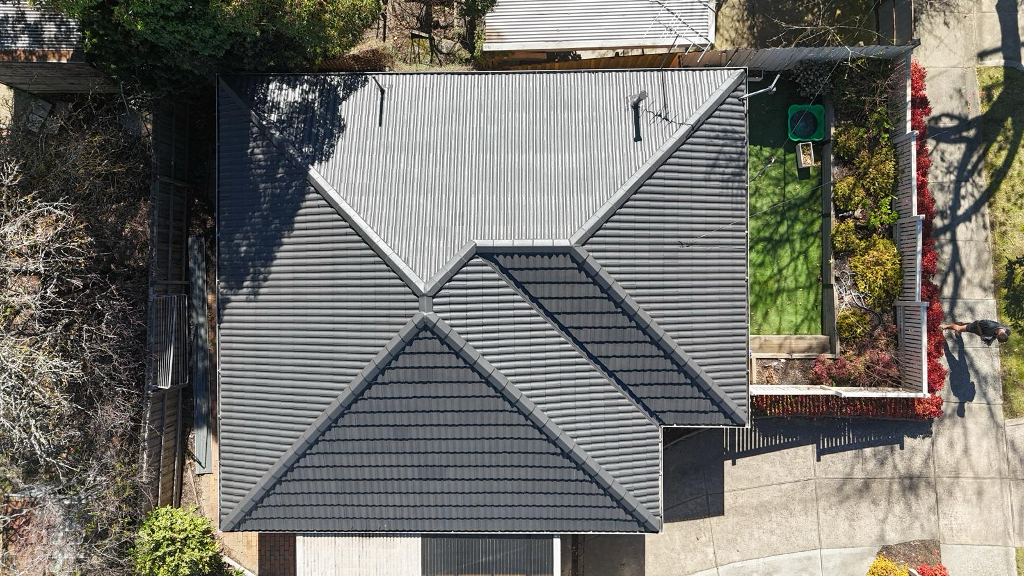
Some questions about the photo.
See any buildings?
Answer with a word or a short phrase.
Yes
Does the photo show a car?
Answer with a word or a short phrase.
No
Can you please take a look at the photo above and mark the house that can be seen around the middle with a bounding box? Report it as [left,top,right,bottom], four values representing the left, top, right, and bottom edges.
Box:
[216,64,753,536]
